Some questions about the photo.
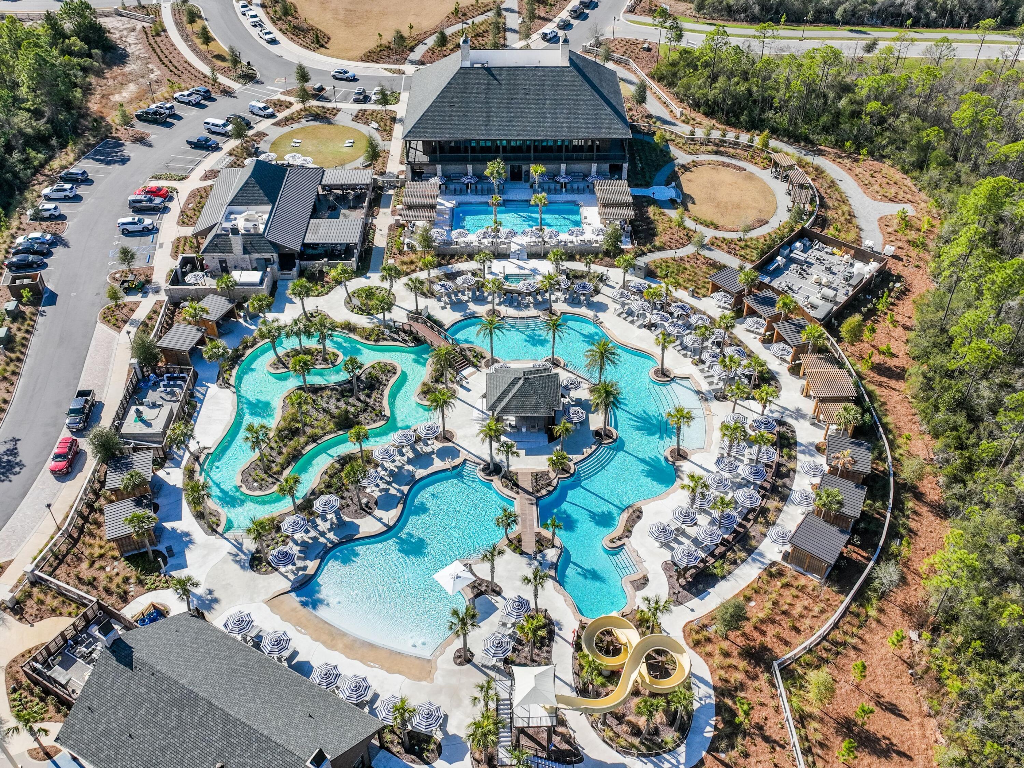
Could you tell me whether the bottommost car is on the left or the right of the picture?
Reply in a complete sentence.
It is on the left.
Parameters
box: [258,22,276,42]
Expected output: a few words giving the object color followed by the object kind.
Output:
white vehicle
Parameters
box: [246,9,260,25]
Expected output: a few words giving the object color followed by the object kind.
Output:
white vehicle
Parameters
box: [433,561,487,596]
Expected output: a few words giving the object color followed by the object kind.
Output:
white umbrella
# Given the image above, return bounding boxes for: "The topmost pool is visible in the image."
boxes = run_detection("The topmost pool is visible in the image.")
[454,204,581,233]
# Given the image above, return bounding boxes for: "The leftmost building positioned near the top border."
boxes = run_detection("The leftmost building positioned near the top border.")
[402,23,633,181]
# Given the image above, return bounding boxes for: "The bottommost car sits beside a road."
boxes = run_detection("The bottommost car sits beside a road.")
[48,438,81,475]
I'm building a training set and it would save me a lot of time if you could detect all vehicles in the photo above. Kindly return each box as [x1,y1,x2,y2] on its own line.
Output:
[117,216,153,233]
[539,27,559,42]
[137,187,168,200]
[135,107,169,124]
[184,134,220,151]
[5,256,43,271]
[258,22,276,42]
[333,66,359,83]
[190,85,215,100]
[575,0,596,8]
[61,391,99,430]
[48,438,81,475]
[129,194,164,212]
[202,116,235,136]
[27,203,61,219]
[566,5,586,18]
[248,99,275,117]
[12,242,49,257]
[42,184,76,200]
[238,0,250,13]
[171,89,204,105]
[16,232,53,246]
[225,111,253,127]
[151,101,177,115]
[352,85,365,104]
[553,19,574,31]
[246,9,260,25]
[371,88,383,103]
[58,167,91,183]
